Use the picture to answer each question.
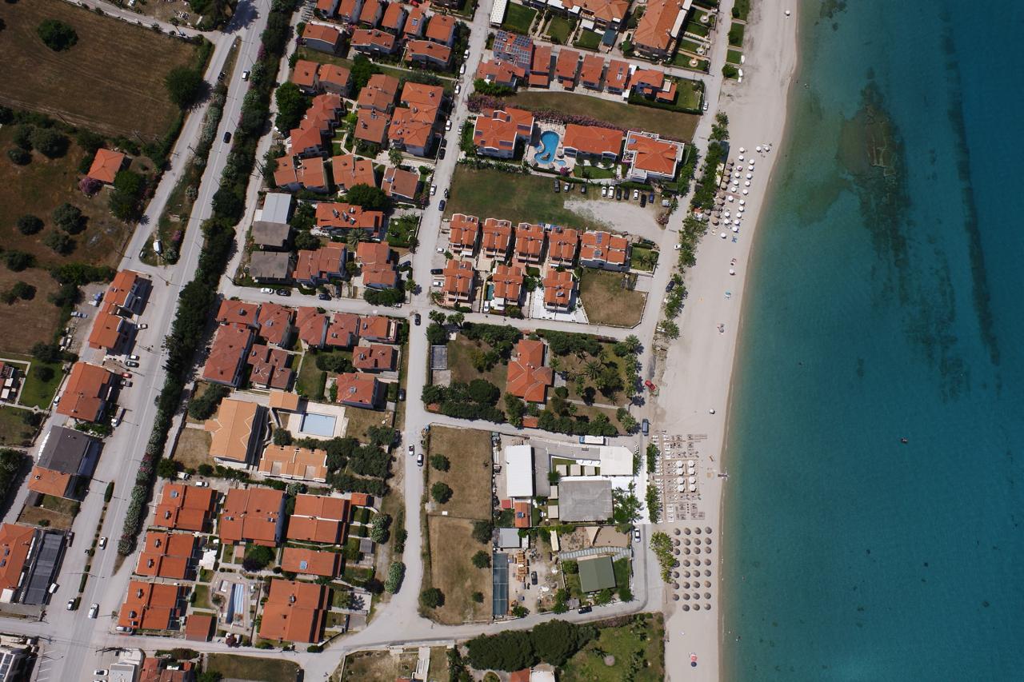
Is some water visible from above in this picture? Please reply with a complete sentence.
Yes, there's water in this view.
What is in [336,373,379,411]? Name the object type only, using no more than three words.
house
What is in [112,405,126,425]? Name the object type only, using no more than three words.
vehicle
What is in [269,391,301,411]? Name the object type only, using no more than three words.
building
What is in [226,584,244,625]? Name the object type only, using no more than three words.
swimming pool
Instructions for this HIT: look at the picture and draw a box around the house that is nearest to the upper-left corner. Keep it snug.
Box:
[88,149,131,186]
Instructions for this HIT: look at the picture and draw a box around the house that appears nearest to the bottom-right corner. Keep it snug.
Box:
[578,557,615,593]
